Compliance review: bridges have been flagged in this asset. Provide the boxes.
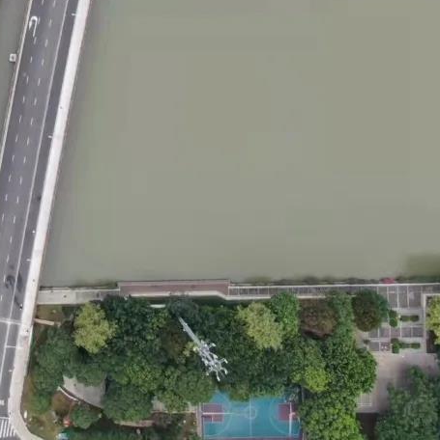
[0,0,91,325]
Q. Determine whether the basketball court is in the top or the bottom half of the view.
bottom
